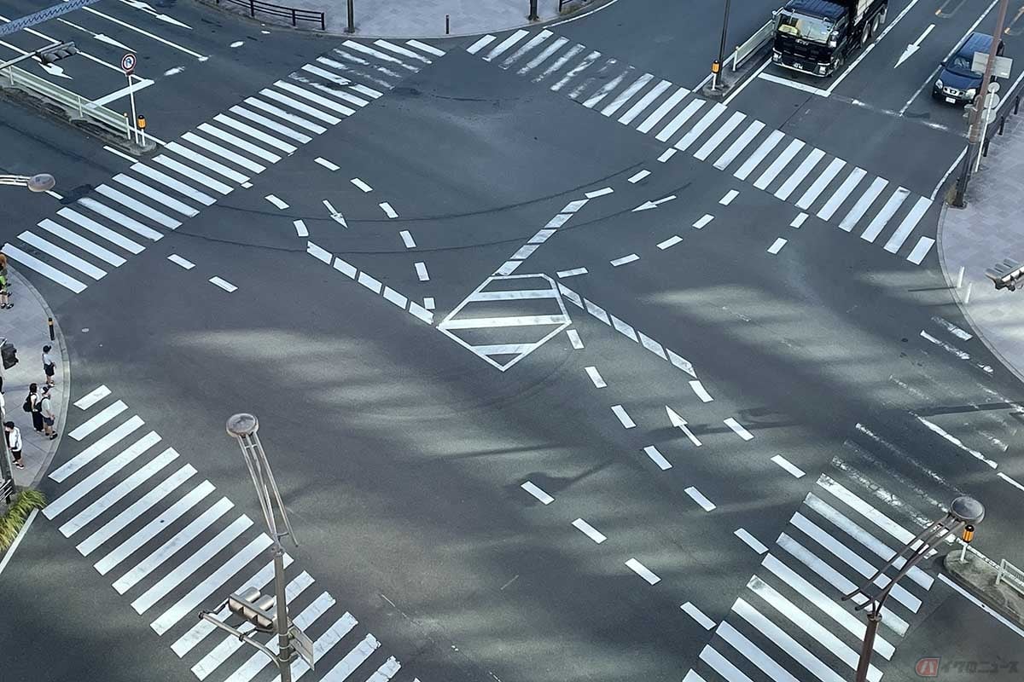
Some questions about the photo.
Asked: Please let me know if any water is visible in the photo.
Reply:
No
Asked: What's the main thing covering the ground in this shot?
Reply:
paved ground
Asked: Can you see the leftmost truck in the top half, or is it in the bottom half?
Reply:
top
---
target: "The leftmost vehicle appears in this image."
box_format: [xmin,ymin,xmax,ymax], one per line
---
[766,0,888,75]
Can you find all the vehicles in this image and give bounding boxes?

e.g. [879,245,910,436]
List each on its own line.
[766,0,888,75]
[932,33,1006,109]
